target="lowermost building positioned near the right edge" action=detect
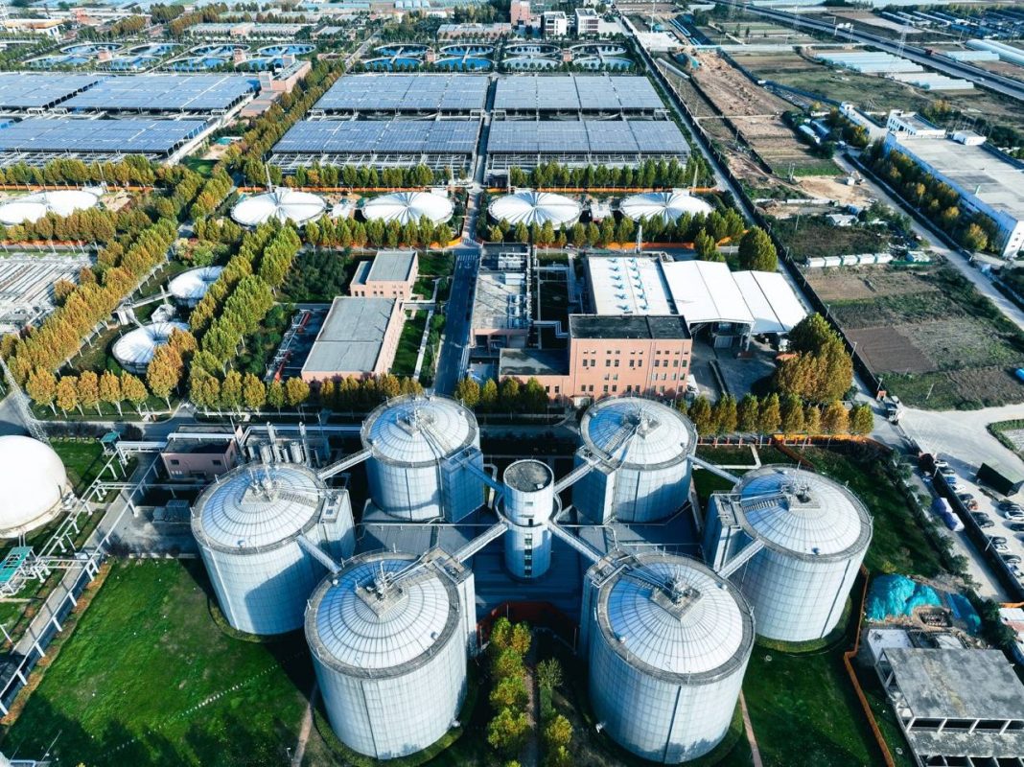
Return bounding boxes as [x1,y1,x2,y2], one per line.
[859,648,1024,767]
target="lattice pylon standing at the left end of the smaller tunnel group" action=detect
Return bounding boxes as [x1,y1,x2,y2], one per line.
[888,12,913,75]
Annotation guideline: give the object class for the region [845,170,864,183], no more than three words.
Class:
vehicle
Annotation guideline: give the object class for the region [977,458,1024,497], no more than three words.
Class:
shed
